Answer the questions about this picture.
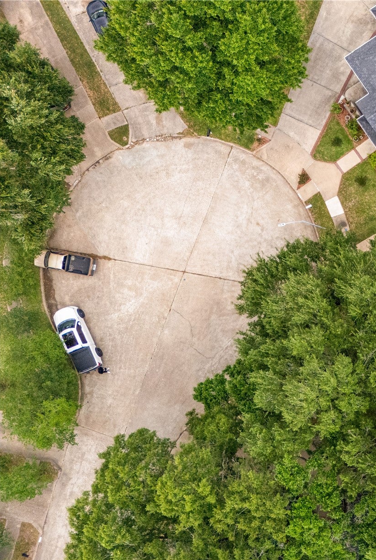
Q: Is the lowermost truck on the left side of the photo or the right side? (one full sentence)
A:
The lowermost truck is on the left side of the image.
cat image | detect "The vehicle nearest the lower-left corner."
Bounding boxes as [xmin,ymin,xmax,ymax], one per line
[53,305,101,373]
